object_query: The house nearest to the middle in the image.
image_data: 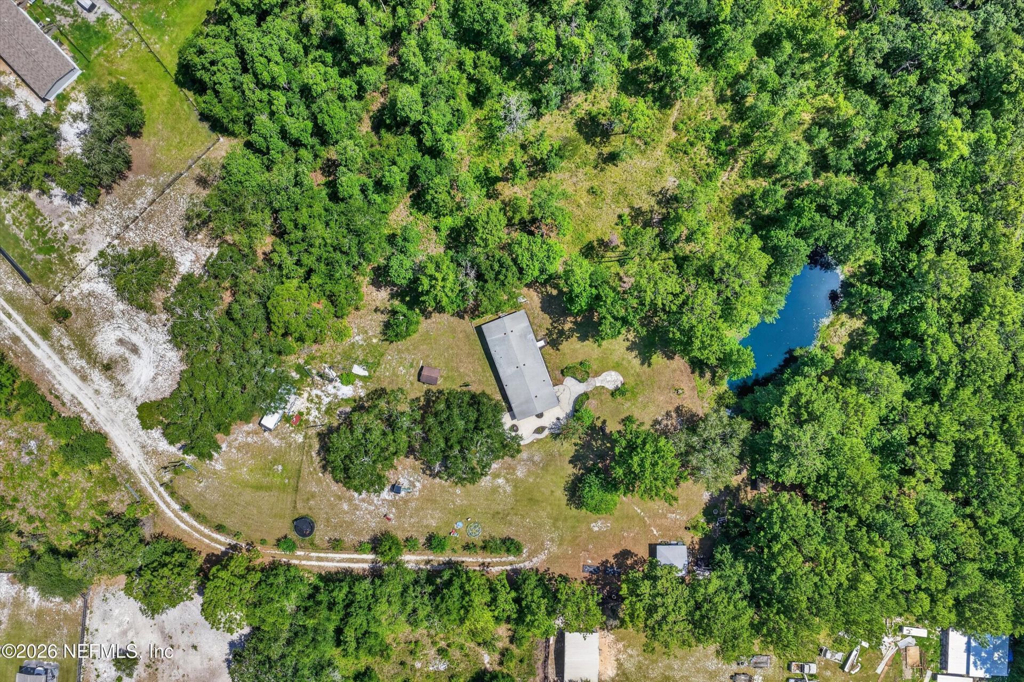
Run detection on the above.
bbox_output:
[482,310,560,420]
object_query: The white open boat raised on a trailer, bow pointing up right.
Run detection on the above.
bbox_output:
[842,644,860,674]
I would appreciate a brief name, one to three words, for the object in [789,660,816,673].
vehicle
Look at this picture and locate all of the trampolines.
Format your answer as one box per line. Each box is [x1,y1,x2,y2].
[292,515,316,540]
